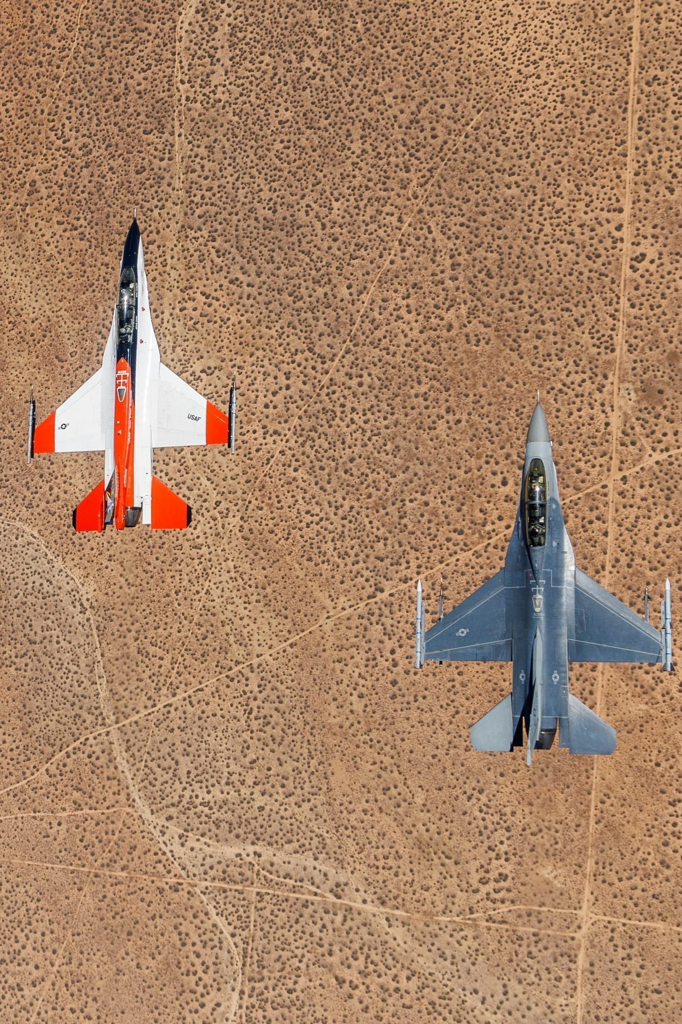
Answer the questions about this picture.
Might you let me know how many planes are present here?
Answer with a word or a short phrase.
2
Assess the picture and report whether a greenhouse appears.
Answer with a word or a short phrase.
No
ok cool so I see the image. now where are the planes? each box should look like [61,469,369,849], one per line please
[32,217,231,533]
[422,392,664,764]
